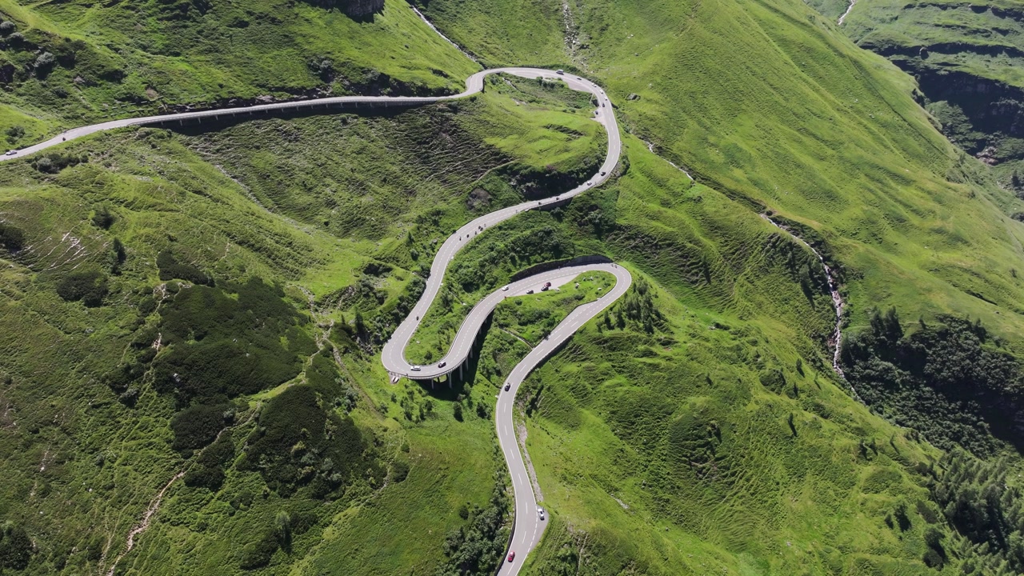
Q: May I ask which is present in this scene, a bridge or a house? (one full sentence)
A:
The one in the frame is a bridge.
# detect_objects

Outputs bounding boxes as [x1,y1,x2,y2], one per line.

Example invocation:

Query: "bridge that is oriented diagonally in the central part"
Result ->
[400,301,498,389]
